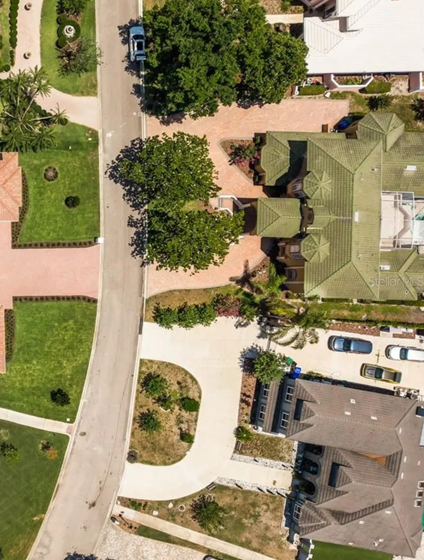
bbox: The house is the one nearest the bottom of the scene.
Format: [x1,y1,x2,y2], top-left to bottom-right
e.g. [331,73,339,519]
[254,377,424,560]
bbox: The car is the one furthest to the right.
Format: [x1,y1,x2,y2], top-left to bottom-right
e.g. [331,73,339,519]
[385,344,424,363]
